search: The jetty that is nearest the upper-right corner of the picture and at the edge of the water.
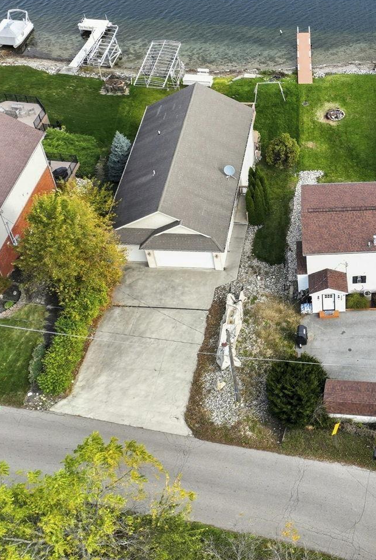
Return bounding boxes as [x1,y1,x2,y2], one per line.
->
[296,24,313,85]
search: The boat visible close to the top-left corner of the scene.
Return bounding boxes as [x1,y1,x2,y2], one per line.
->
[0,9,33,50]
